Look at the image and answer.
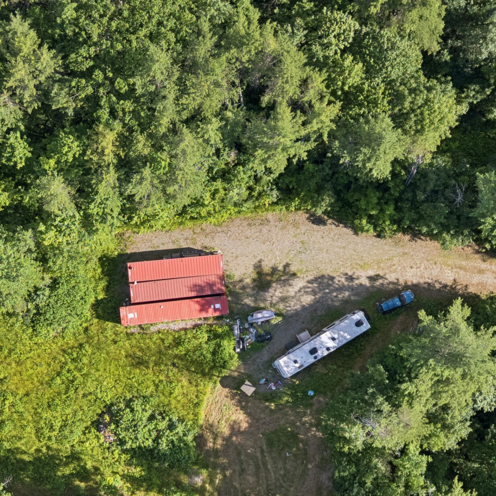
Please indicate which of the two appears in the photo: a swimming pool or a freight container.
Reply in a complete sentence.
This aerial view contains a freight container.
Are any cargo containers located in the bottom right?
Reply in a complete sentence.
No, in the bottom right there is no cargo container.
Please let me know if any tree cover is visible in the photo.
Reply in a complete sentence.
Yes, there's tree cover in this view.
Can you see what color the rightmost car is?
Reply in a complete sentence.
From above, the rightmost car appears blue.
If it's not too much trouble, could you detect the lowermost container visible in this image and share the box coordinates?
[120,295,228,326]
